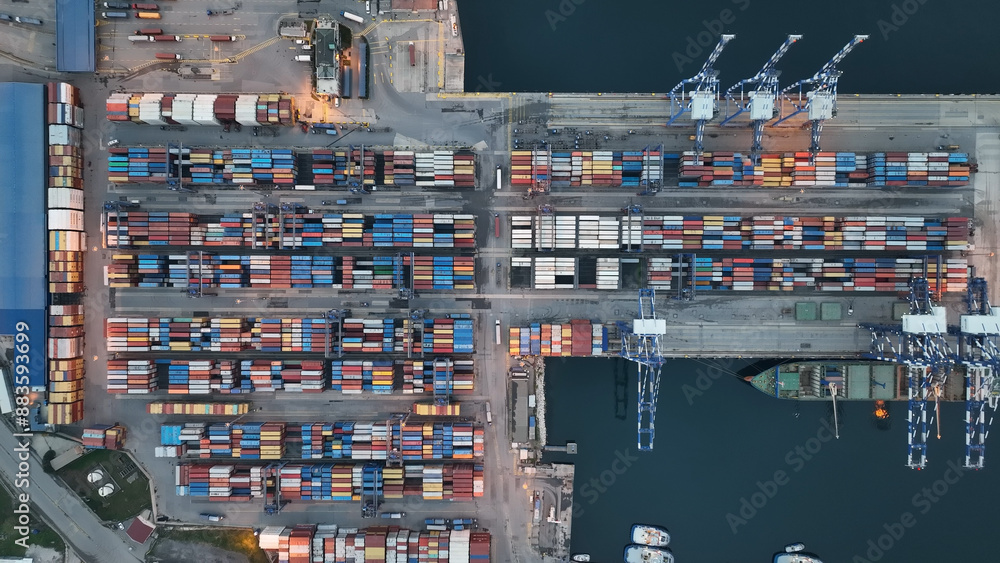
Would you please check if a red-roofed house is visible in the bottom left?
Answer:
Yes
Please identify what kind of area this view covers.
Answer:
port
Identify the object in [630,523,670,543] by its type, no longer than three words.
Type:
boat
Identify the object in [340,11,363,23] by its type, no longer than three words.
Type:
vehicle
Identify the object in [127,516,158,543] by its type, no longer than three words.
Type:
house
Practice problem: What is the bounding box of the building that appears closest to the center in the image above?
[512,379,528,443]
